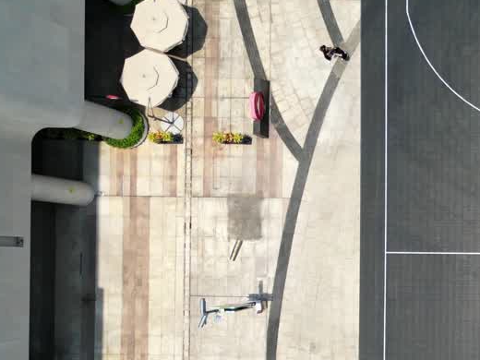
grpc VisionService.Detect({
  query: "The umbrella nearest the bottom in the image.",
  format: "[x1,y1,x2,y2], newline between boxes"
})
[119,48,183,134]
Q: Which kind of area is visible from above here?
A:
sports ground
